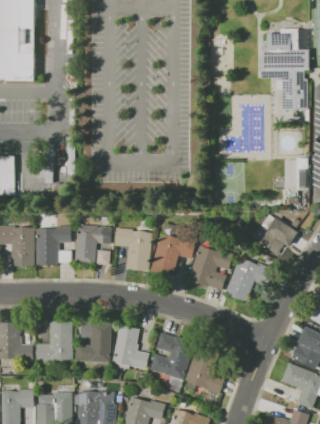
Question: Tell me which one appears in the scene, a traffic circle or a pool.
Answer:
pool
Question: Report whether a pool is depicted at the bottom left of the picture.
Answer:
No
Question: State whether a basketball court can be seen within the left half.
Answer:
No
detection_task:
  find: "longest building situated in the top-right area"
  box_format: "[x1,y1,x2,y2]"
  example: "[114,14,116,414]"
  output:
[262,28,310,122]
